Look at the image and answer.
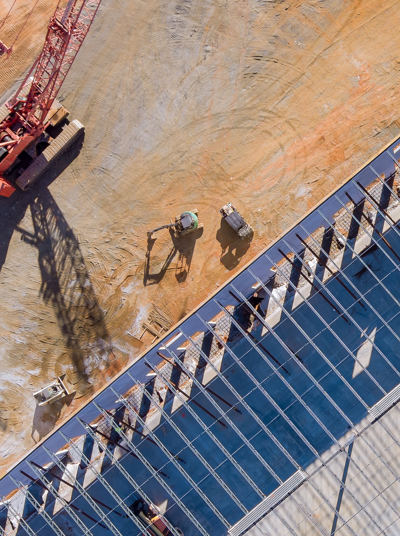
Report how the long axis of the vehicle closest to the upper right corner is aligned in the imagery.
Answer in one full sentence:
The vehicle closest to the upper right corner runs at an angle in the image.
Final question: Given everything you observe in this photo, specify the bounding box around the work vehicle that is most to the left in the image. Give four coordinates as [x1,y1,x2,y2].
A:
[28,376,79,407]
